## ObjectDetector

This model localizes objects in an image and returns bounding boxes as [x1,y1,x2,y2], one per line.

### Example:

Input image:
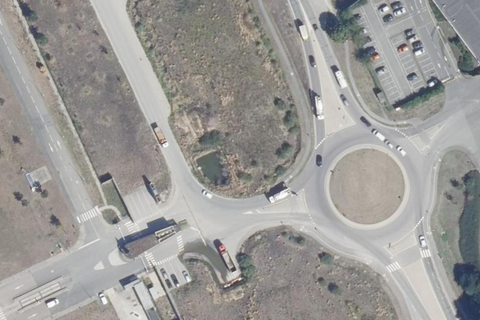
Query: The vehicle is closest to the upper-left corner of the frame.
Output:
[154,125,168,146]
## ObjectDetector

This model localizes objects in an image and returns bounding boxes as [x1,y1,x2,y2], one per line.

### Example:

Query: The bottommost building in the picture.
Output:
[134,282,160,320]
